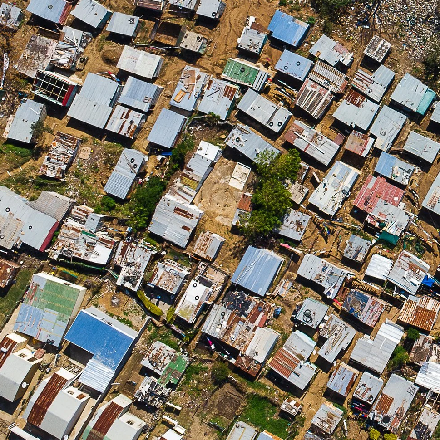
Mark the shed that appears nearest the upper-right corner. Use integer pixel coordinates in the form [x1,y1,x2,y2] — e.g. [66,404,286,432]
[365,35,391,62]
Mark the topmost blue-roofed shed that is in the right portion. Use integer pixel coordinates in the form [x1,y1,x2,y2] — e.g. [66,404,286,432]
[268,10,311,47]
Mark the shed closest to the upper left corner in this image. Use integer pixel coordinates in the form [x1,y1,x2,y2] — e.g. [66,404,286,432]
[0,2,28,25]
